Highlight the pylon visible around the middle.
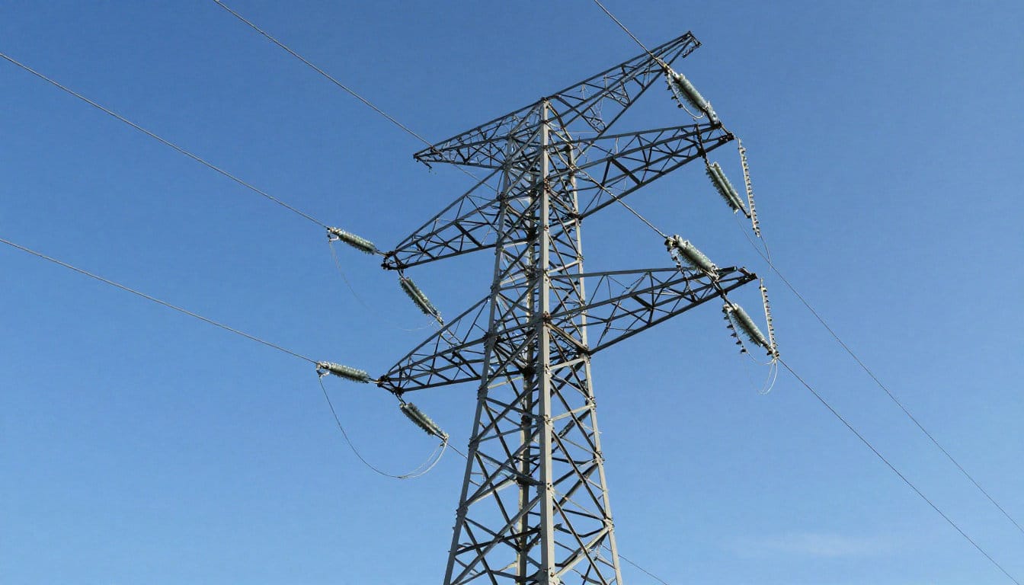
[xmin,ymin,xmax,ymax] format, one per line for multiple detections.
[380,30,758,585]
